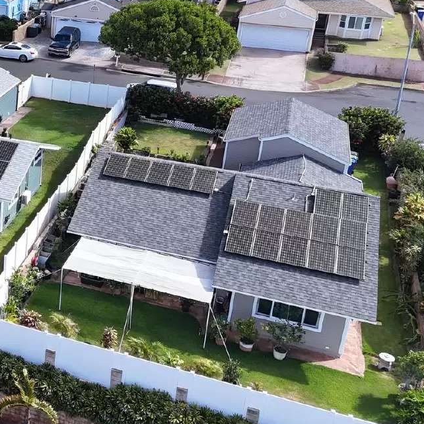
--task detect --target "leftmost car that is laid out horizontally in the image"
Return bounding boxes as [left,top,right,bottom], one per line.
[0,42,39,62]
